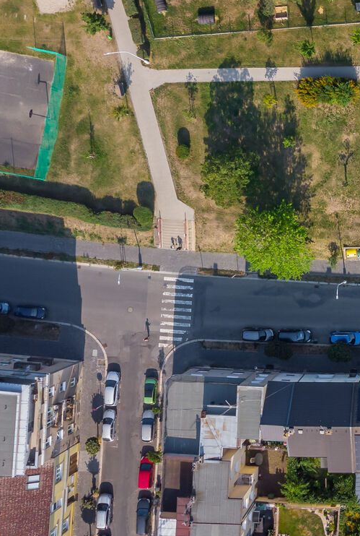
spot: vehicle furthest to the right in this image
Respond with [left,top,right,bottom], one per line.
[331,331,360,346]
